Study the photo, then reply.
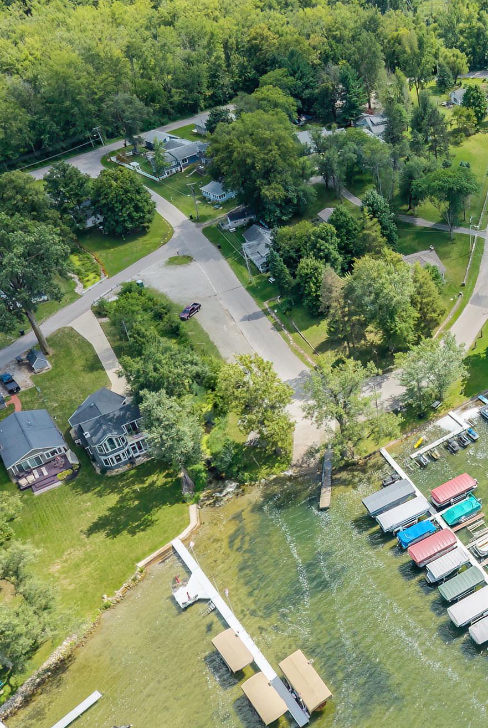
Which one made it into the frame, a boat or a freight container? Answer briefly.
boat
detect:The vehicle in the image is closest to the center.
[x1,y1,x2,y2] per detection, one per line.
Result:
[180,302,201,318]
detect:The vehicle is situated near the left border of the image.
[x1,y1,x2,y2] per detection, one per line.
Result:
[0,375,17,394]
